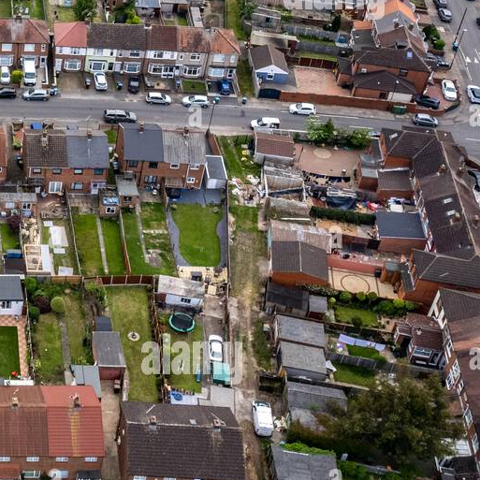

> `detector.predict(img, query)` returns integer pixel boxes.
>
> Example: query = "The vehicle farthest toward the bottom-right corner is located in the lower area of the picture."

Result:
[251,399,277,437]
